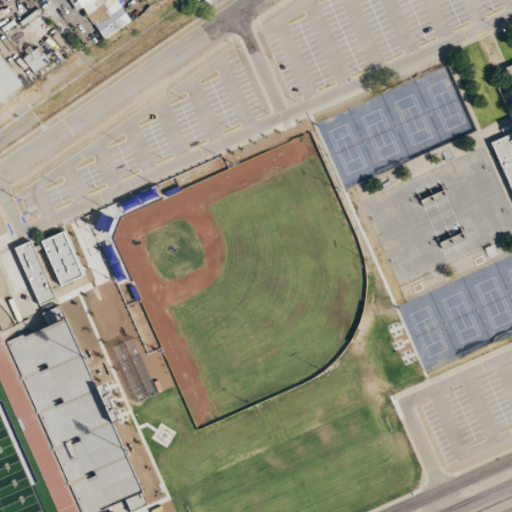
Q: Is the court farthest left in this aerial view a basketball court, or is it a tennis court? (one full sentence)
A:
What you see as the court farthest left is a tennis court.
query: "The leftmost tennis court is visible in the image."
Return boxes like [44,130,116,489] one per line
[317,110,378,189]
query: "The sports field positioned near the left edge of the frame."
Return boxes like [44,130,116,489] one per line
[0,379,58,512]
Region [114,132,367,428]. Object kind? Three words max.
baseball field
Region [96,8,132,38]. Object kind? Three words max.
shed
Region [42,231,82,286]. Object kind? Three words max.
building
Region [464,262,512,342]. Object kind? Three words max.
tennis court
